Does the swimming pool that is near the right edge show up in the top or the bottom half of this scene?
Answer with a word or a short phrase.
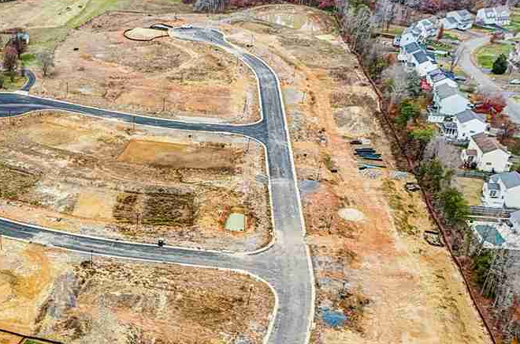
bottom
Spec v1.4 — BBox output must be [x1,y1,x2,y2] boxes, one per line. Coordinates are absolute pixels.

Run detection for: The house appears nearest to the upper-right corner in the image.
[476,7,516,28]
